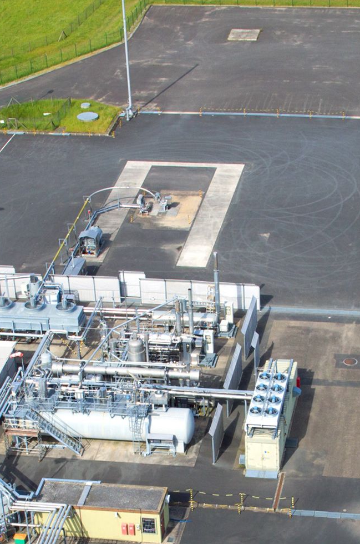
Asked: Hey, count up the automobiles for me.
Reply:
0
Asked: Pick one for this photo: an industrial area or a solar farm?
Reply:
industrial area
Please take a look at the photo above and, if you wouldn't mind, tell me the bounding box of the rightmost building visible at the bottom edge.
[31,469,174,543]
